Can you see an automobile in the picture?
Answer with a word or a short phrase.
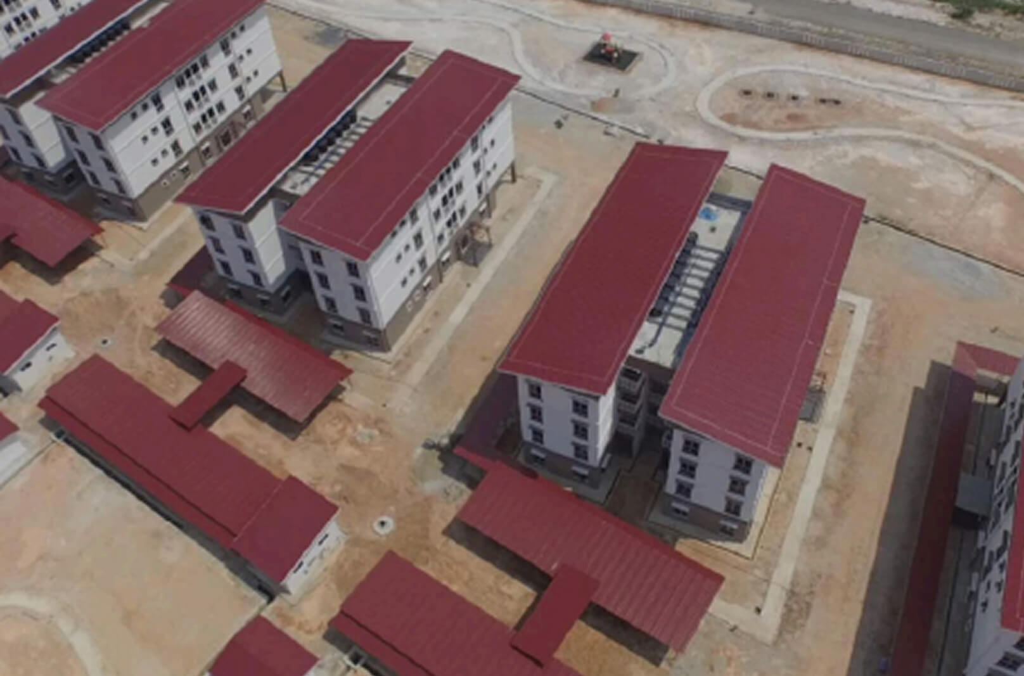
No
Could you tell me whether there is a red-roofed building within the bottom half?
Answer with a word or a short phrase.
Yes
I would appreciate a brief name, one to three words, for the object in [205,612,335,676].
house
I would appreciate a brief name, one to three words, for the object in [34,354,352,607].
building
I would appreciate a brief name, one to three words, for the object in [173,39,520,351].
building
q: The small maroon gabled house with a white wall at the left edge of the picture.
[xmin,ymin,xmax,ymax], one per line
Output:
[0,416,41,485]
